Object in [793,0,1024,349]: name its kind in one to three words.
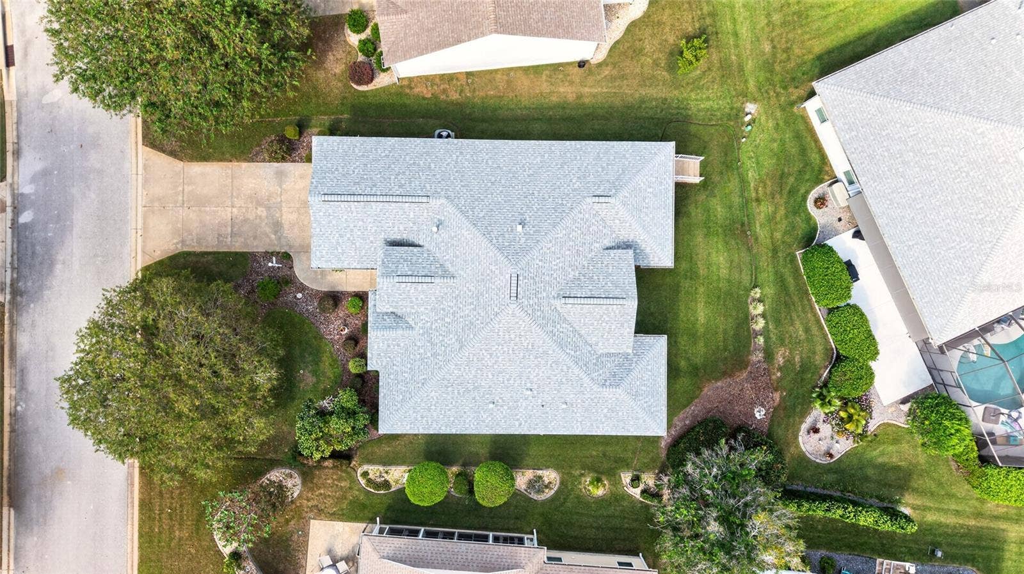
house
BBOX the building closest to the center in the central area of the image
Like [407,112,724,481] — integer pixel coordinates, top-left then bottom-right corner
[306,135,677,438]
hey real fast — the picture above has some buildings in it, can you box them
[356,514,658,574]
[368,0,616,83]
[306,135,677,438]
[793,0,1024,349]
